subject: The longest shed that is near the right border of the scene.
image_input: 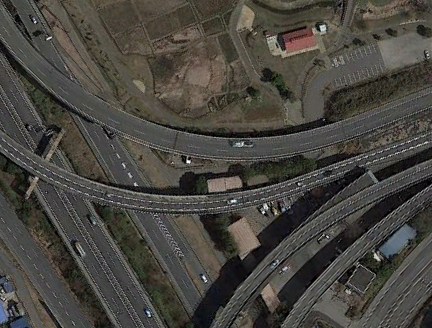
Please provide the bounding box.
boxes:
[377,223,417,261]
